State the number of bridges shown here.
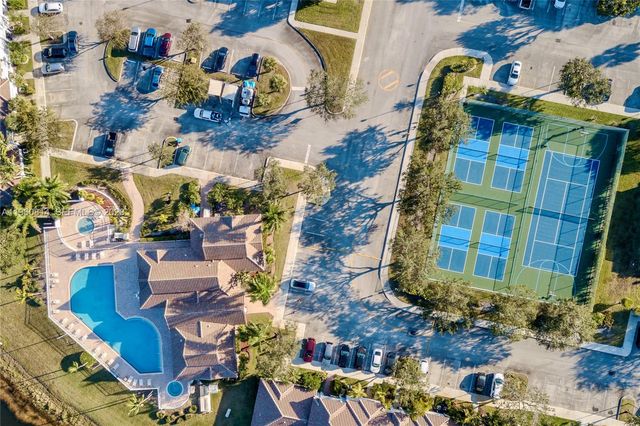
zero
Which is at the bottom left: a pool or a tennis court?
pool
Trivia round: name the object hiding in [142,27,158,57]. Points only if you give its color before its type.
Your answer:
blue vehicle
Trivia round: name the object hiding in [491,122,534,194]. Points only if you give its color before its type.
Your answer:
blue sports court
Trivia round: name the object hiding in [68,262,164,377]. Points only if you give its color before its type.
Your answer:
blue swimming pool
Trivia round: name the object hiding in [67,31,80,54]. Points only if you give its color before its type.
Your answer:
blue vehicle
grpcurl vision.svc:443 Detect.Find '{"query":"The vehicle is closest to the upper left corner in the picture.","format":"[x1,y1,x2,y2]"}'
[39,1,64,14]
